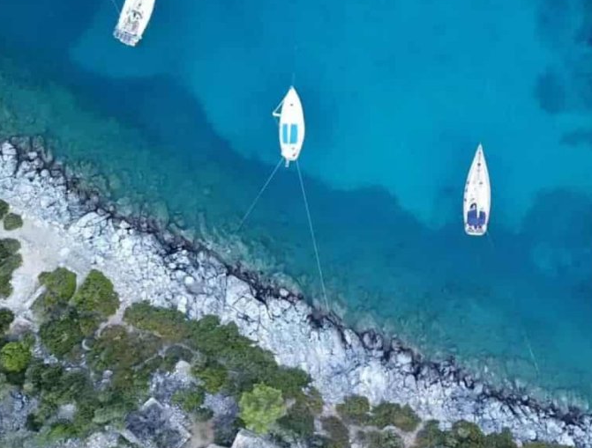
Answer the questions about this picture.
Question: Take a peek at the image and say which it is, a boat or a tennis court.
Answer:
boat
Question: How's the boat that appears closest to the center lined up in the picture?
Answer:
from top to bottom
